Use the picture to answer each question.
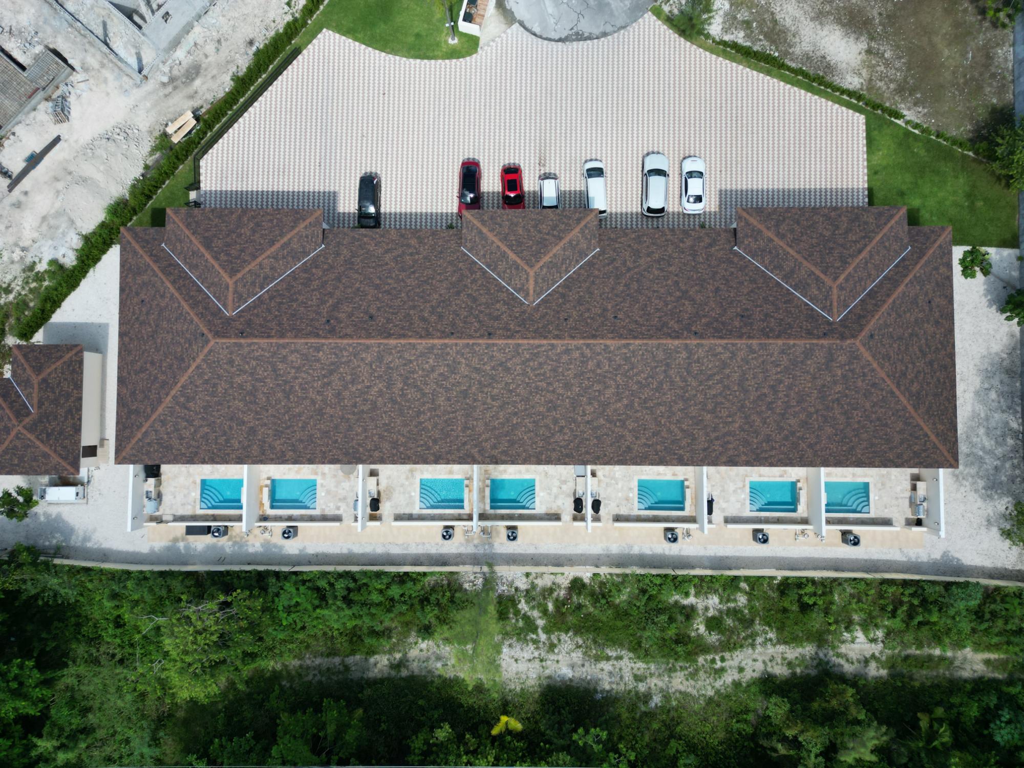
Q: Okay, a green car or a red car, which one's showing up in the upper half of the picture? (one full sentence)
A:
The feature located in the upper half of the picture is a red car.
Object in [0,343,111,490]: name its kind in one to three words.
house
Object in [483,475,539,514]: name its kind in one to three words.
swimming pool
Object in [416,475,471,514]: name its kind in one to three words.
swimming pool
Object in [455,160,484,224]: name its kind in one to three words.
car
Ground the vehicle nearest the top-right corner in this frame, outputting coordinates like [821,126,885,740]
[679,157,708,217]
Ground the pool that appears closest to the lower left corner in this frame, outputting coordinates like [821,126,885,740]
[196,474,244,512]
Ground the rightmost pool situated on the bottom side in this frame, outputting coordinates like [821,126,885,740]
[822,477,874,516]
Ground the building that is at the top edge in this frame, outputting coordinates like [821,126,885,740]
[458,0,500,40]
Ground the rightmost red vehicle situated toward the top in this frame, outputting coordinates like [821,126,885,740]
[499,166,527,209]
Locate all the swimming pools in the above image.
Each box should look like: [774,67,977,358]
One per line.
[822,477,874,516]
[634,476,692,515]
[483,475,539,514]
[746,476,806,516]
[416,475,471,514]
[262,474,320,513]
[196,474,244,512]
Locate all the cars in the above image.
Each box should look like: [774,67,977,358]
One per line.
[455,160,484,224]
[355,173,383,226]
[499,166,527,209]
[641,153,671,218]
[537,174,563,209]
[582,160,608,221]
[679,157,708,217]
